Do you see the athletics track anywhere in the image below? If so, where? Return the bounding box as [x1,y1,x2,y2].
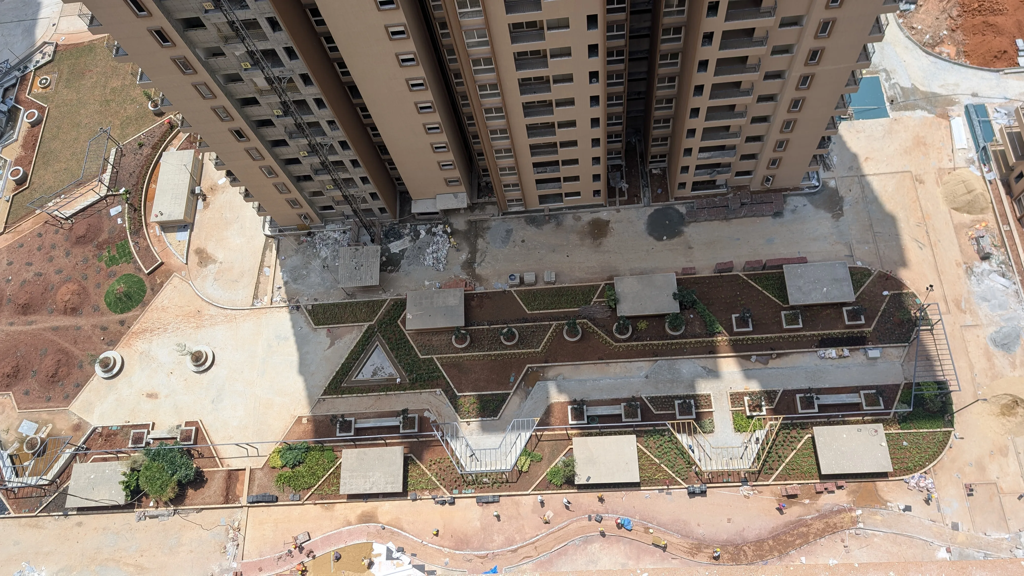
[234,507,857,575]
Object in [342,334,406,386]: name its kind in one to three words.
pond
